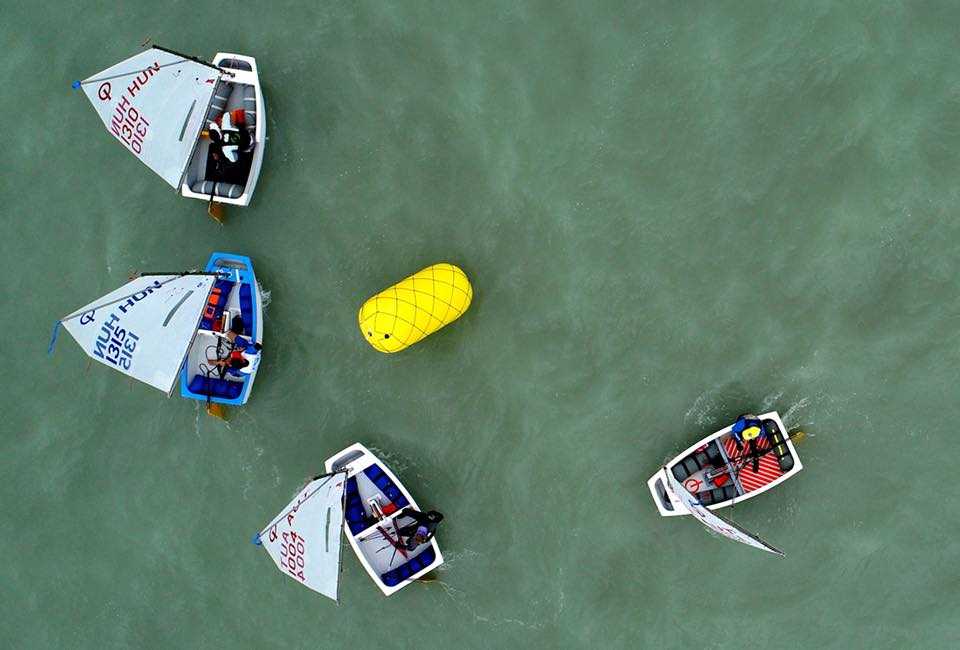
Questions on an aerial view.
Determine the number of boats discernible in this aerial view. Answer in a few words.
4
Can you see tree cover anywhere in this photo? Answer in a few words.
No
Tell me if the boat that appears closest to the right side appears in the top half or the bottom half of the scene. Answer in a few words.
bottom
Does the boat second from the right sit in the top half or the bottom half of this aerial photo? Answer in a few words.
bottom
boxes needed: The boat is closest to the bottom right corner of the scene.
[644,409,806,561]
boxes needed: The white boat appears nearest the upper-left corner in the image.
[72,38,266,218]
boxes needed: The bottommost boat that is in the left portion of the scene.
[250,441,446,607]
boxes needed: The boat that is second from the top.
[52,251,263,420]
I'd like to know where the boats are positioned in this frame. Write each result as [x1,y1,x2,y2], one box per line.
[72,38,266,218]
[52,251,263,420]
[250,441,446,607]
[644,409,806,561]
